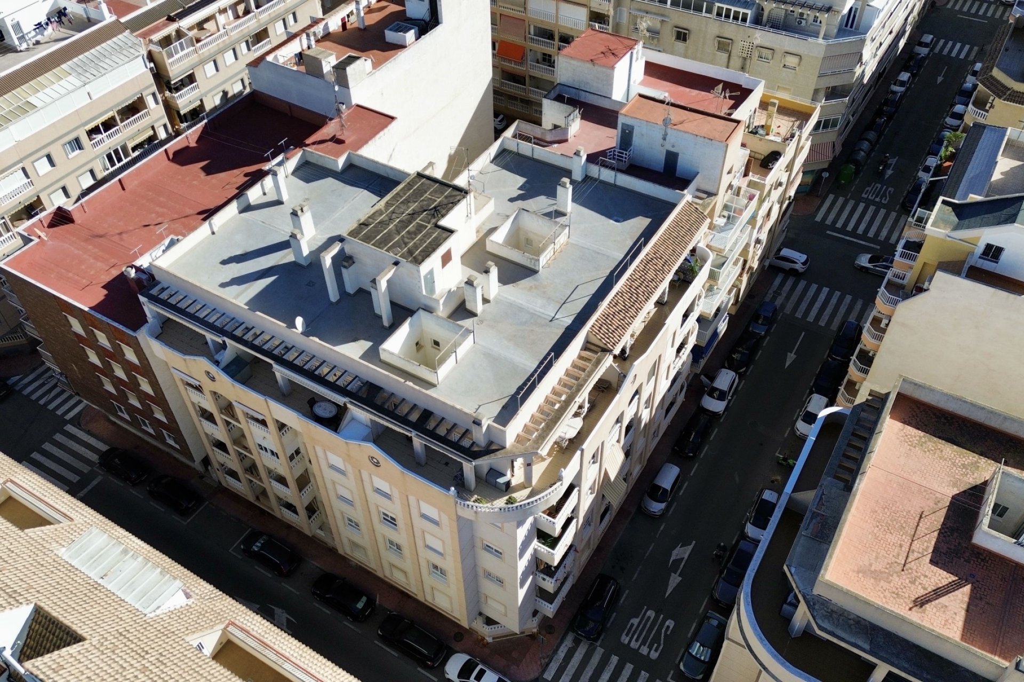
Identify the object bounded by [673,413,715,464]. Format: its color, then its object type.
black car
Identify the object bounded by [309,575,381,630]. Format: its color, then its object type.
black car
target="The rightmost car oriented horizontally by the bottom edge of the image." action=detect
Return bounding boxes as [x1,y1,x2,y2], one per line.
[446,652,519,682]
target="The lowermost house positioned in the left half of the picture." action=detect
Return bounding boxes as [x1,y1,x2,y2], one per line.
[0,450,358,682]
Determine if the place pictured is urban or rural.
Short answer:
urban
